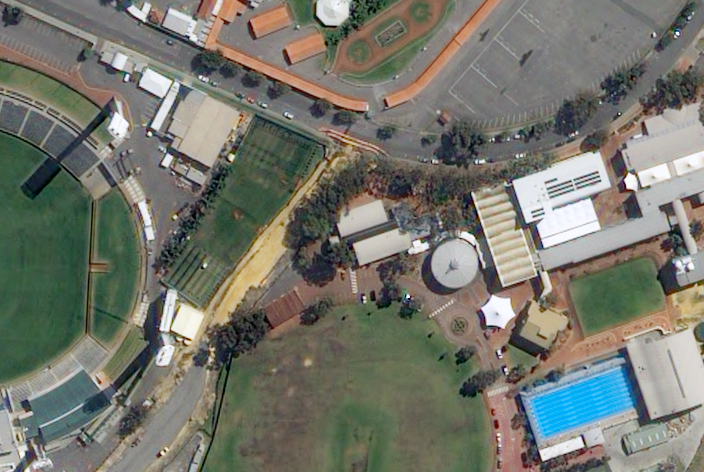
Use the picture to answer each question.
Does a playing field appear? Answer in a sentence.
Yes, there's a playing field here.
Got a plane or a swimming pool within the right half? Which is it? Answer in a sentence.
The one visible within the right half is a swimming pool.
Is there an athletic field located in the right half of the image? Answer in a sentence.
Yes, I can see an athletic field in the right half of the image.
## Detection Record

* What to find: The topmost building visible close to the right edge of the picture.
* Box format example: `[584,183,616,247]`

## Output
[634,97,704,143]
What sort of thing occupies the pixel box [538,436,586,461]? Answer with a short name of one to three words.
building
